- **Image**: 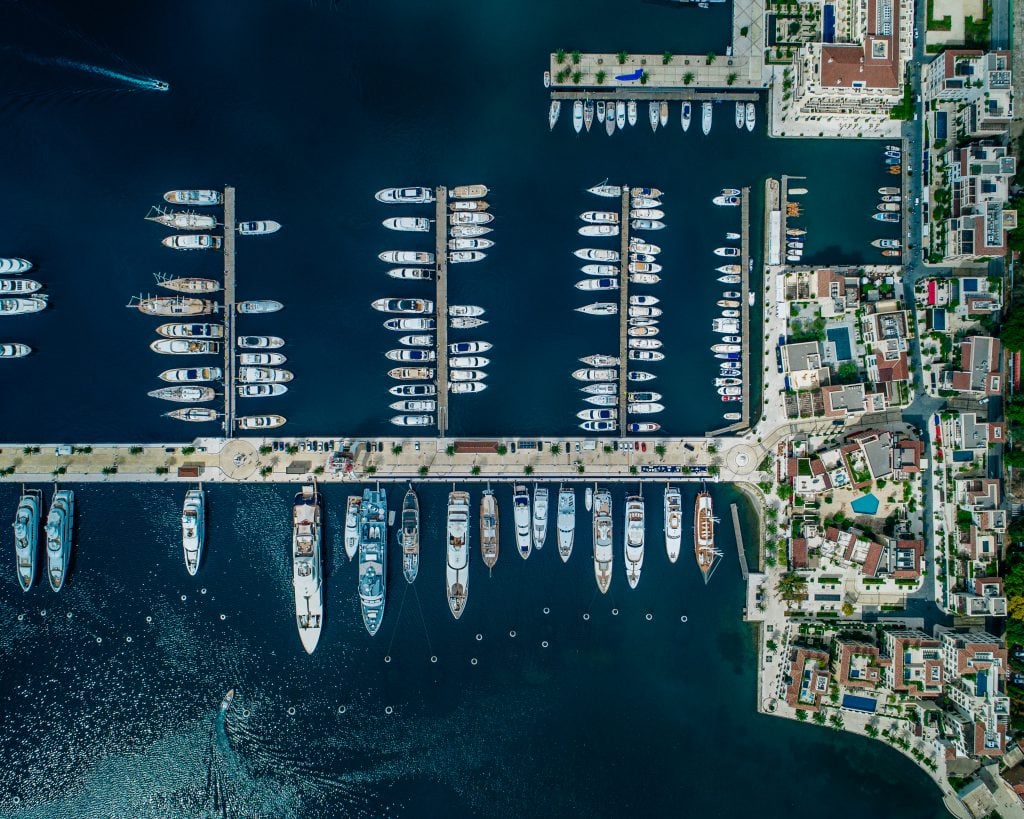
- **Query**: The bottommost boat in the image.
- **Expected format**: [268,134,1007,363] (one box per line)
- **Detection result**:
[219,690,233,712]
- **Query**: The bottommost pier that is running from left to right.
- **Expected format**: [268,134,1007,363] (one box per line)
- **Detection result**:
[0,437,736,483]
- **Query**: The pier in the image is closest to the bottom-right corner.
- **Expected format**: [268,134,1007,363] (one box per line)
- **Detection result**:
[730,503,748,578]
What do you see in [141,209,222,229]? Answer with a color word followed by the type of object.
white ship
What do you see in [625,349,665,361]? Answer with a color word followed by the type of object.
white boat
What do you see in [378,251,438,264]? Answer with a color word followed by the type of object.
white boat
